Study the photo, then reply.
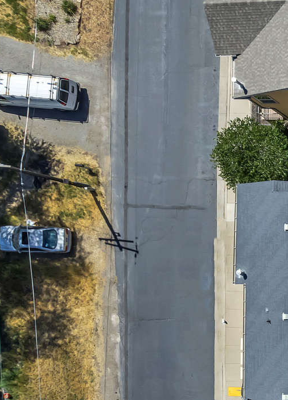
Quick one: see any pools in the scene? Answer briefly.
No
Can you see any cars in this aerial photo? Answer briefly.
Yes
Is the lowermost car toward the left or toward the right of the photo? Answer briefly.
left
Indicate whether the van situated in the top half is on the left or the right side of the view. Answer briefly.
left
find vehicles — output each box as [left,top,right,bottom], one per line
[1,219,75,255]
[0,69,82,114]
